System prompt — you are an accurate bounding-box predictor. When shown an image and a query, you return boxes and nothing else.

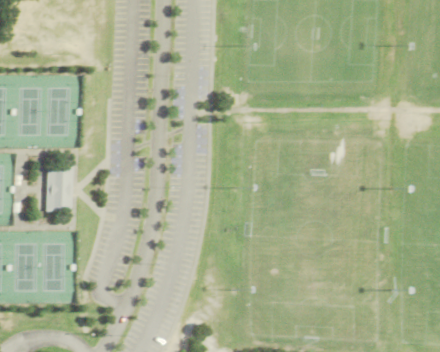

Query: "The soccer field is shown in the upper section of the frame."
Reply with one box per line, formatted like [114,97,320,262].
[248,0,377,82]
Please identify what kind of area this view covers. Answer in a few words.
sports ground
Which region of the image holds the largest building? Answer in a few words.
left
